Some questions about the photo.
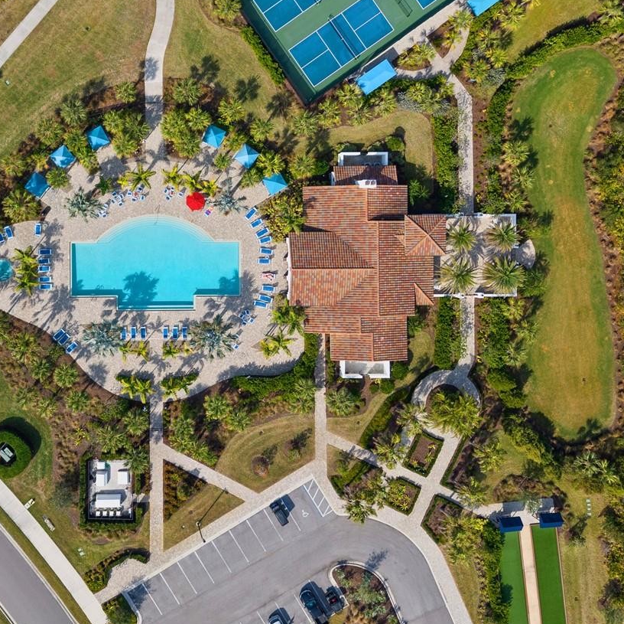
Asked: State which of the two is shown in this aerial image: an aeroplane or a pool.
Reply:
pool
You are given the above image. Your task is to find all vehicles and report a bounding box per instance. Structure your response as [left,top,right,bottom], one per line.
[269,613,286,624]
[324,587,343,612]
[300,587,328,624]
[268,502,289,530]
